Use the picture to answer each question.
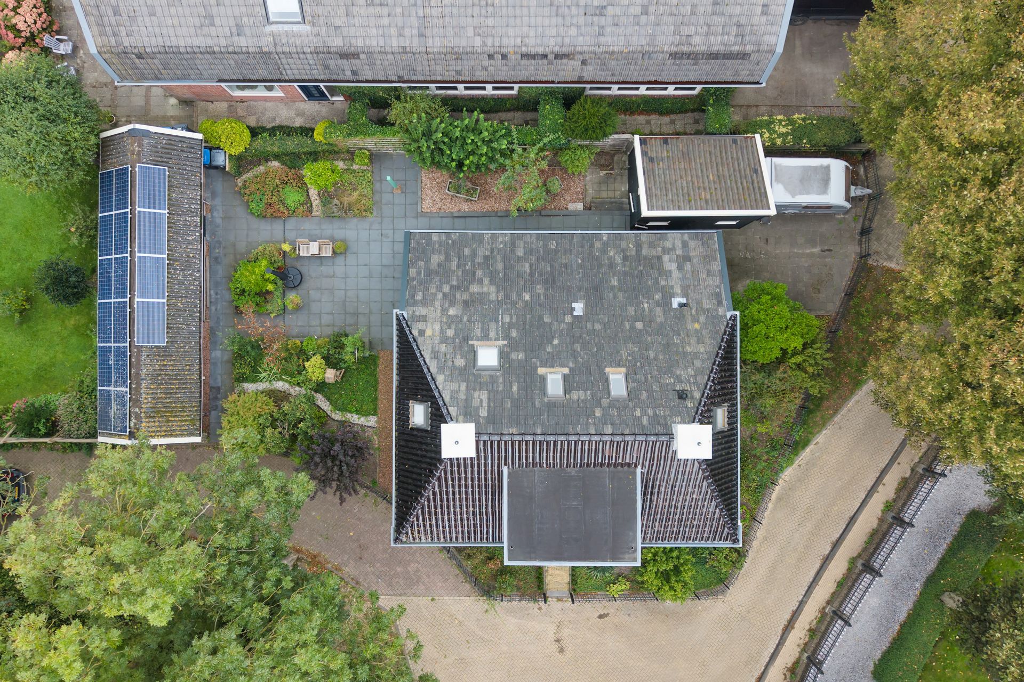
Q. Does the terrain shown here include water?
No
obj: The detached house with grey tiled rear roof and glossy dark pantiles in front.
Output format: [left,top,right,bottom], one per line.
[392,227,742,566]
